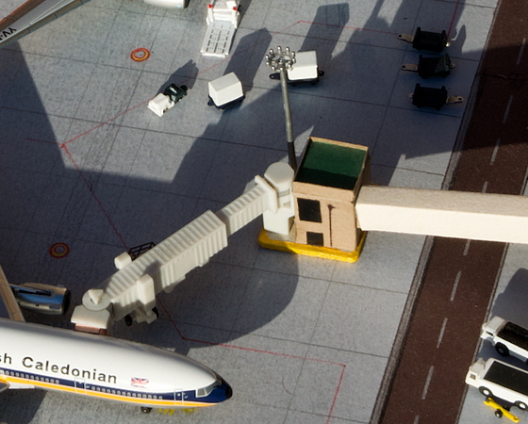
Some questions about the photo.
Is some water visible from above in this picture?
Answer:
No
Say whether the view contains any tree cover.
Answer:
No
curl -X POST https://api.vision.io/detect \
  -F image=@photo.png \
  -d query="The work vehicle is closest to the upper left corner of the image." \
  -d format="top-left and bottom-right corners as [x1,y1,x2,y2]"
[148,81,189,117]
